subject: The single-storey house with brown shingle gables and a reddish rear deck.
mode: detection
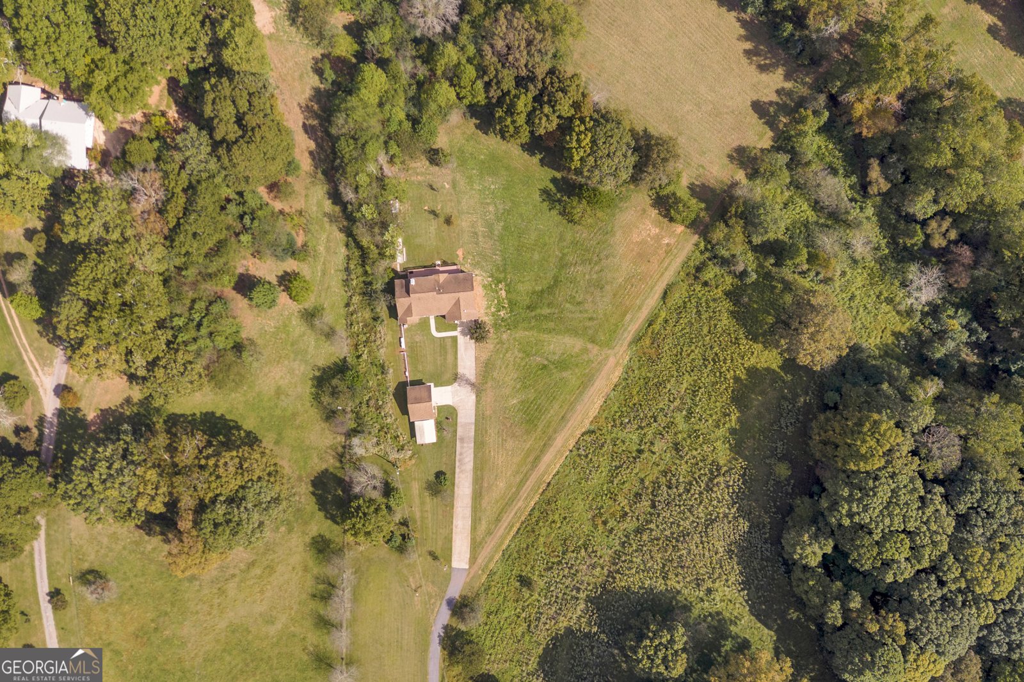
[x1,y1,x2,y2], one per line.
[395,262,478,324]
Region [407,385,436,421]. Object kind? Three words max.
building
